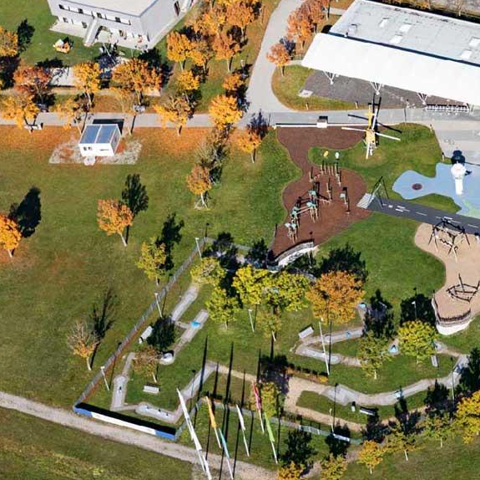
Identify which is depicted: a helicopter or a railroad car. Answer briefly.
helicopter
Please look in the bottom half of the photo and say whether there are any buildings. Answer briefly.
No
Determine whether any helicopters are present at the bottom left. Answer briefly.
No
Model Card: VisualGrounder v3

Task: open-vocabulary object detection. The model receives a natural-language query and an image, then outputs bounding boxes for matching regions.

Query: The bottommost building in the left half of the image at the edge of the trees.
[79,125,121,157]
